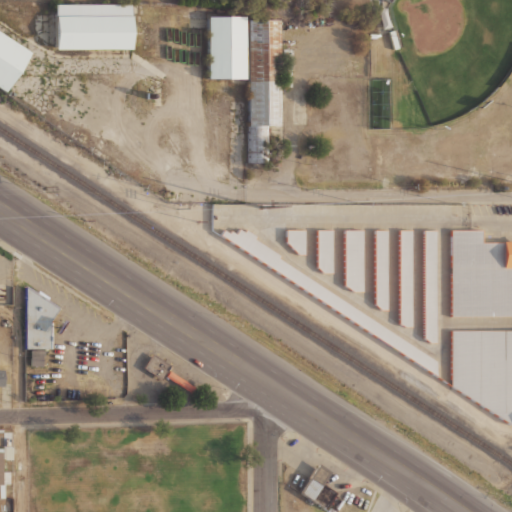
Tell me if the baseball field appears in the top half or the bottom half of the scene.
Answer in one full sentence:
The baseball field is in the top half of the image.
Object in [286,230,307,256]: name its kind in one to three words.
building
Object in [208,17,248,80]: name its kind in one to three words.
barn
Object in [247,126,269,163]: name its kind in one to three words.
shed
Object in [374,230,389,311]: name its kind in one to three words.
building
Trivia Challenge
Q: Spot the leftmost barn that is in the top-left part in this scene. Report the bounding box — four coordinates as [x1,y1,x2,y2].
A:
[0,32,32,93]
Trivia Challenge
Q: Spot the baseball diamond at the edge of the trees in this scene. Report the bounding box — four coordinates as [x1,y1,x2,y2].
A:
[395,0,512,124]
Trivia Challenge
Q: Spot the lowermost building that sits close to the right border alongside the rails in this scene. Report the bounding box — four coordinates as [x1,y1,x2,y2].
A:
[450,331,512,424]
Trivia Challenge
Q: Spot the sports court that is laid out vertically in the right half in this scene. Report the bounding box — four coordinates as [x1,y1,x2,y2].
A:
[370,78,391,128]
